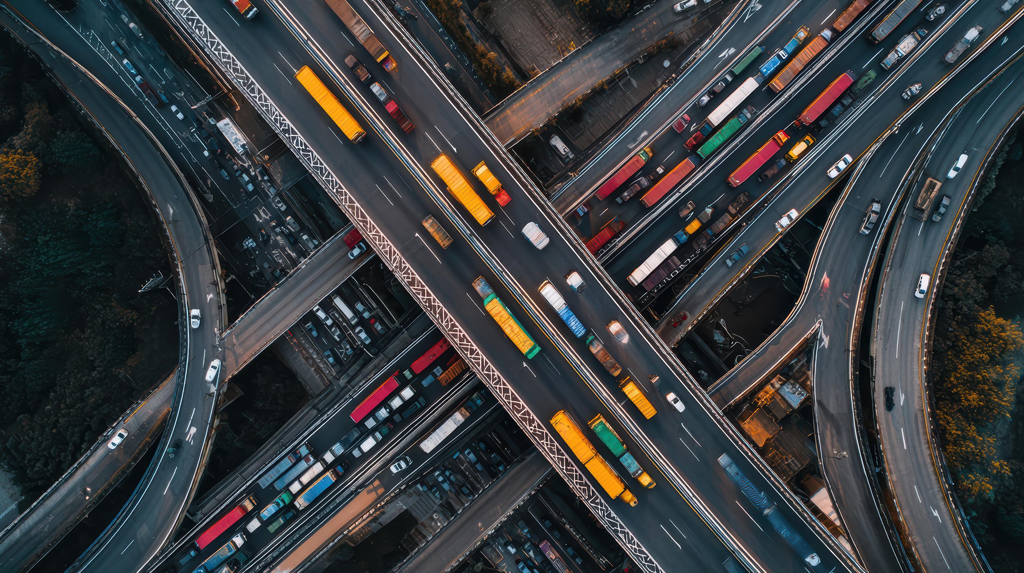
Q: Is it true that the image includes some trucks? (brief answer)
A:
Yes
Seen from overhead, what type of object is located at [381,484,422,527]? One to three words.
building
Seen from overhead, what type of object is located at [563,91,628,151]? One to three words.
building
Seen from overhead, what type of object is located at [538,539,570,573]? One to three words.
truck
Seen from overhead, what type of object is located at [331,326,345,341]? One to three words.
vehicle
